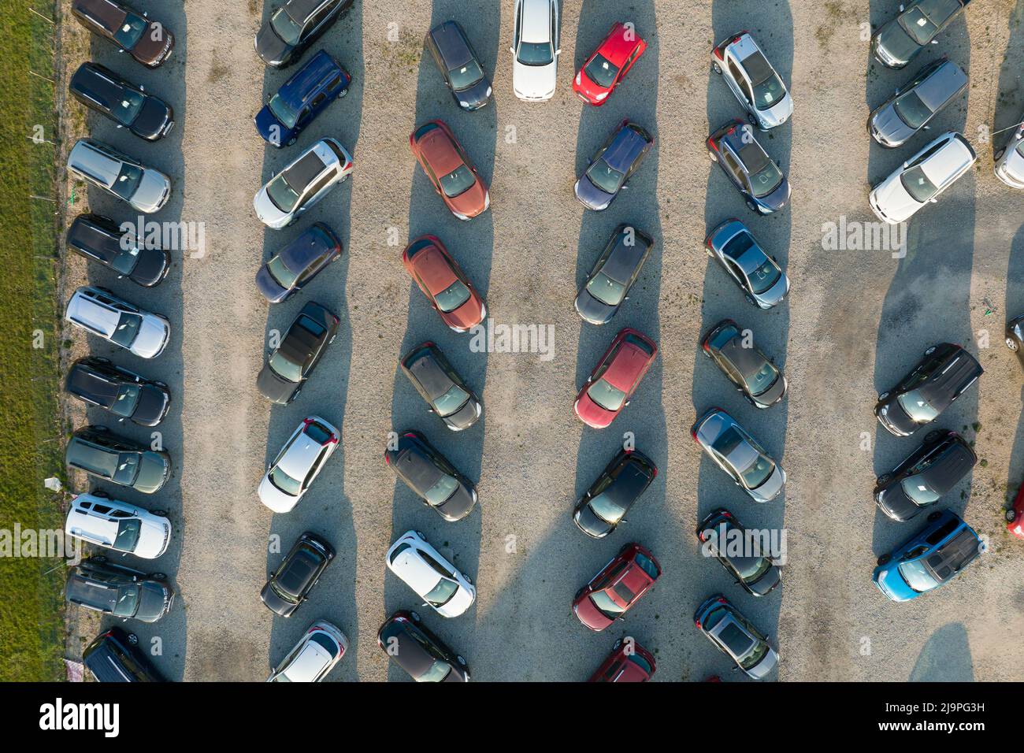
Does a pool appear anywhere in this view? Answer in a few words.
No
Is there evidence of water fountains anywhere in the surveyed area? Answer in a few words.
No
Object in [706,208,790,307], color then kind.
blue car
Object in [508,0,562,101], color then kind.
white car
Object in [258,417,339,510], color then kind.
white car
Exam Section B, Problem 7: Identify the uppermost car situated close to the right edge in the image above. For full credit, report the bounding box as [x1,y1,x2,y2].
[870,0,978,73]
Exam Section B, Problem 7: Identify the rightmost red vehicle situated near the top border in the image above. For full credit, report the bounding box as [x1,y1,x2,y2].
[573,19,647,108]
